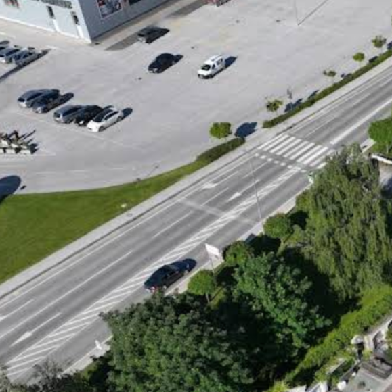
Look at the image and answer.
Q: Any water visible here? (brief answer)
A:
No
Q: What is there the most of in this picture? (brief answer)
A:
paved ground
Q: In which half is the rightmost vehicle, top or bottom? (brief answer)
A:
top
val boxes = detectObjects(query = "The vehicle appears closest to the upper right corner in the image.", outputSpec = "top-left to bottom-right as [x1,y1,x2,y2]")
[198,52,229,77]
